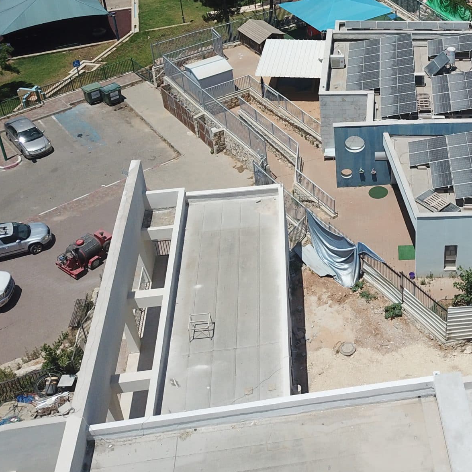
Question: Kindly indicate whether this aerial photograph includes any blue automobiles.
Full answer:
No, there isn't any blue automobile down there.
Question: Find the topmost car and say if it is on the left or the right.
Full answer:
The topmost car sits on the left side.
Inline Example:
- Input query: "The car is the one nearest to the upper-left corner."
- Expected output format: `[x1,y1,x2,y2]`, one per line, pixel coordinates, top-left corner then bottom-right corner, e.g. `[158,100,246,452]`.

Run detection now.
[1,114,51,158]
